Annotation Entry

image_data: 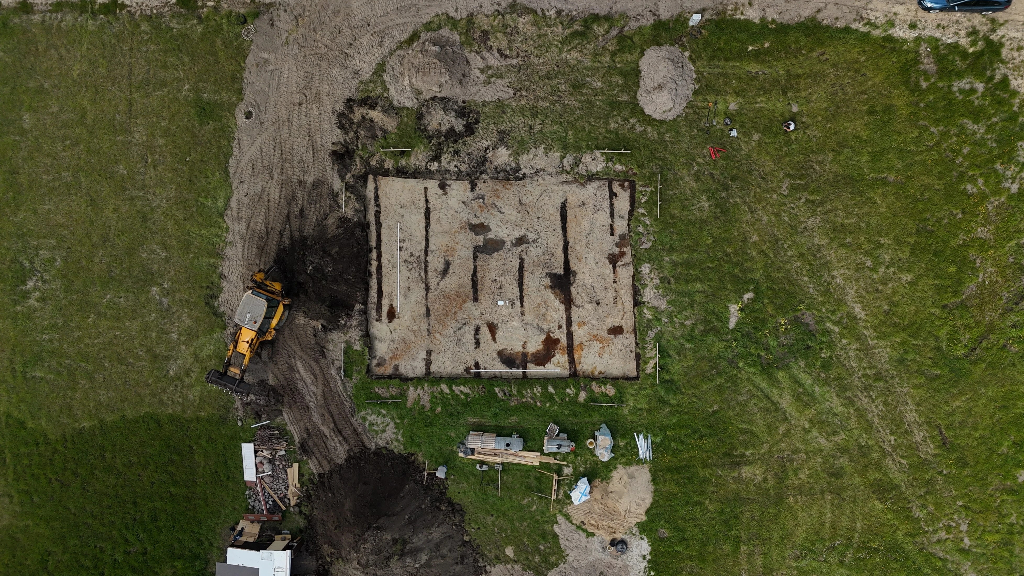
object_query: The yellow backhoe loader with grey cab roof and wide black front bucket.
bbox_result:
[207,265,299,403]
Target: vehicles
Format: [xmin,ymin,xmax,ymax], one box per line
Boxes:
[207,265,299,403]
[915,0,1018,14]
